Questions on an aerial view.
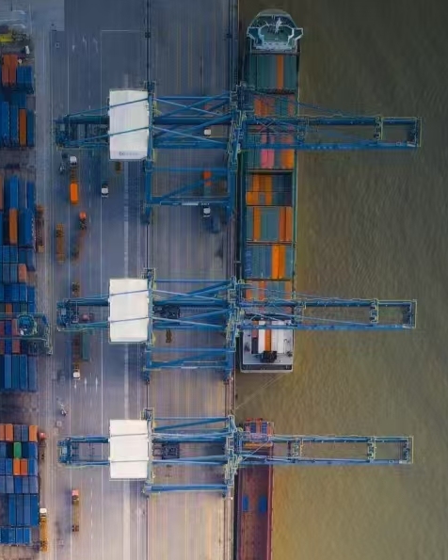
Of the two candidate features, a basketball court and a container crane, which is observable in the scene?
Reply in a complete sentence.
Visible in the photo is a container crane.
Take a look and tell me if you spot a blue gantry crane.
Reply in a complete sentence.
Yes, there is a blue gantry crane in the image.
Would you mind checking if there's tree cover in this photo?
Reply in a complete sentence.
No, tree cover can't be seen anywhere here.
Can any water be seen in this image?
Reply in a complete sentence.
Yes, some water is visible.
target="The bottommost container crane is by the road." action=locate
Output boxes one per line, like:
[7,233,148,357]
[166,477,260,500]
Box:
[58,406,417,508]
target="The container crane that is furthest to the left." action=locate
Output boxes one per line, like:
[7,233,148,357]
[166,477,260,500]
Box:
[0,311,52,364]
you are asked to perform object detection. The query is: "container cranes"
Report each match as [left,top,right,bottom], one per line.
[56,267,420,387]
[55,67,422,226]
[58,406,417,508]
[0,311,52,364]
